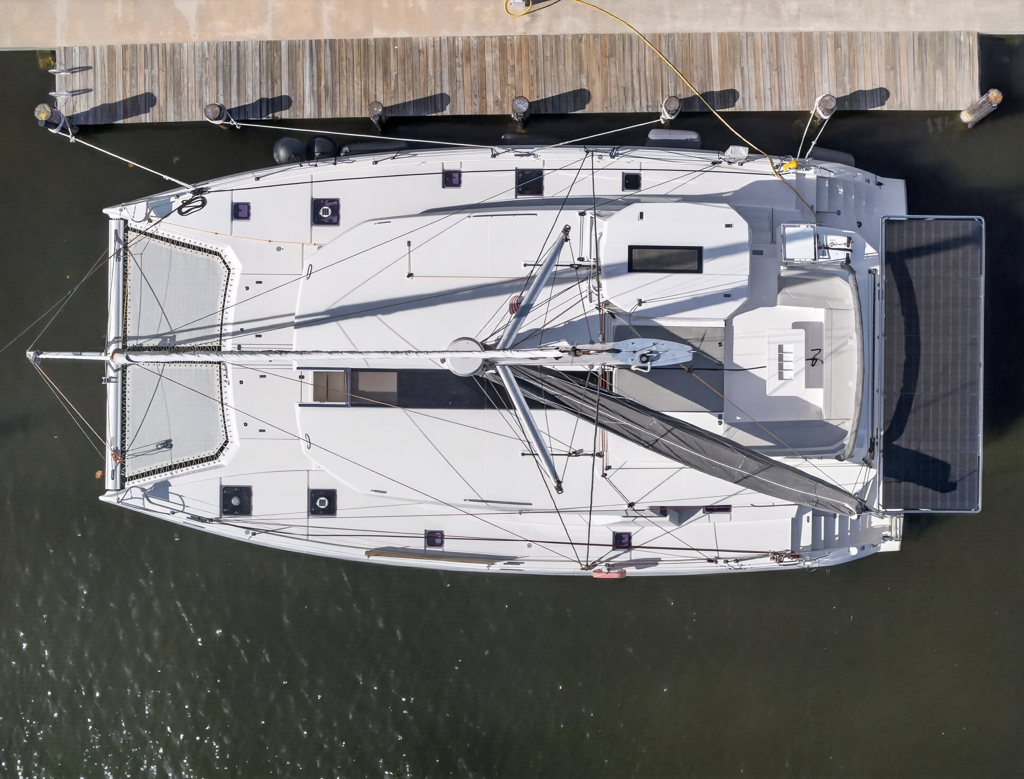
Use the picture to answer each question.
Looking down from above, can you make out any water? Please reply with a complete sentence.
Yes, some water is visible.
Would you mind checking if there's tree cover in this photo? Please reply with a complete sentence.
No, the picture contains no tree cover.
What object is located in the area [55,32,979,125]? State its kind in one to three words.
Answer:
pier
